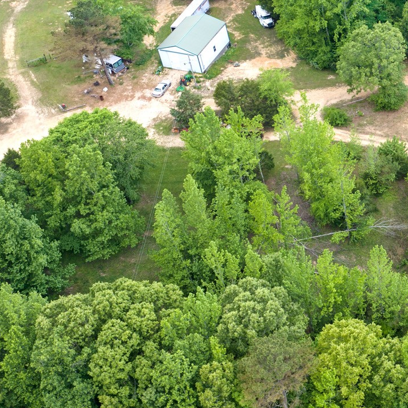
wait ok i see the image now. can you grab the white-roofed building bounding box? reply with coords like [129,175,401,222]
[156,13,229,73]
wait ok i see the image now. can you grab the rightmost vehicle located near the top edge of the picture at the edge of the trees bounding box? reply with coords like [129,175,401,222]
[251,6,270,27]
